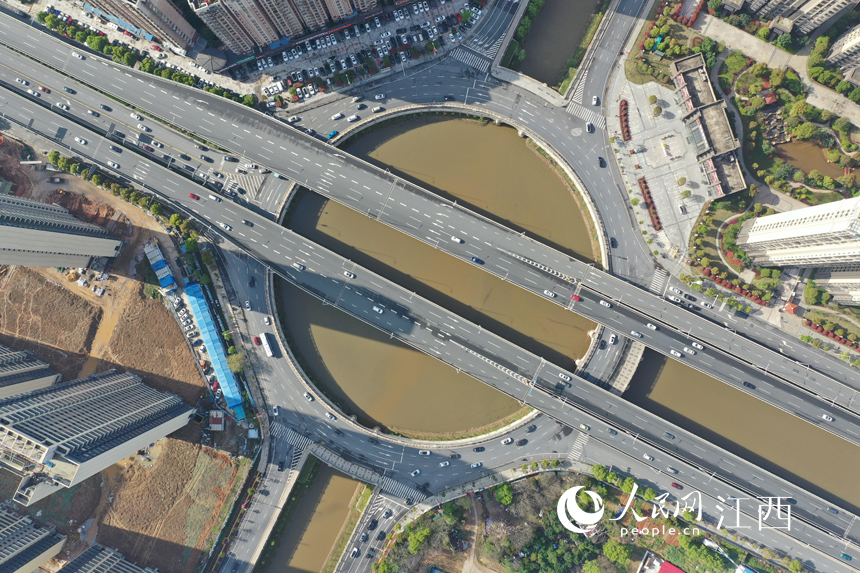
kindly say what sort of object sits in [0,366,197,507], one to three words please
building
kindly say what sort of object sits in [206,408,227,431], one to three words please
shed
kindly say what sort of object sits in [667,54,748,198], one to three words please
building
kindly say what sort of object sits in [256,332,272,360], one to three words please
vehicle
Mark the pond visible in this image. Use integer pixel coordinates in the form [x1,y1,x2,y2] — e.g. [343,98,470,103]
[773,139,860,179]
